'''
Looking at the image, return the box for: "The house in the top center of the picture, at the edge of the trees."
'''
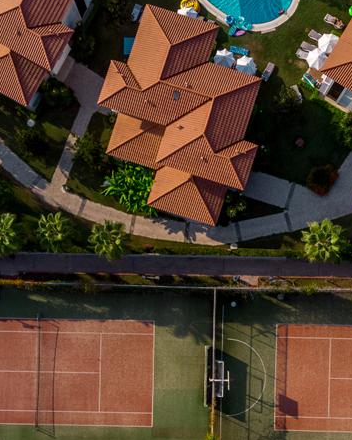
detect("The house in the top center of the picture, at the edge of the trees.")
[97,2,263,226]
